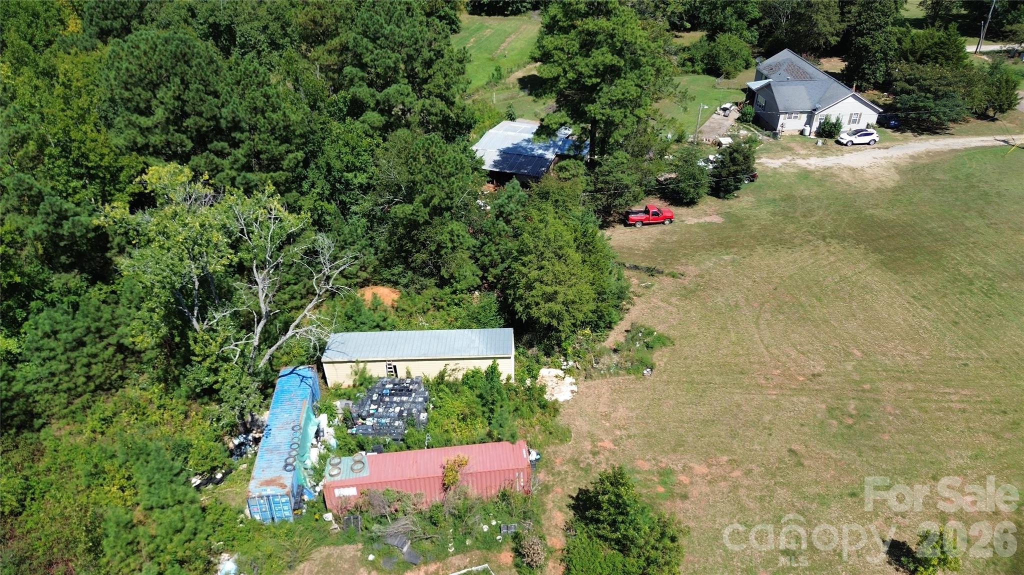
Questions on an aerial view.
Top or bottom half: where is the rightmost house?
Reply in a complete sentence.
You can find the rightmost house in the top half.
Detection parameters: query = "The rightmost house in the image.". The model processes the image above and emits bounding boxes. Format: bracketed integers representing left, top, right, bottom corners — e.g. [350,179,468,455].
[739,47,881,134]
